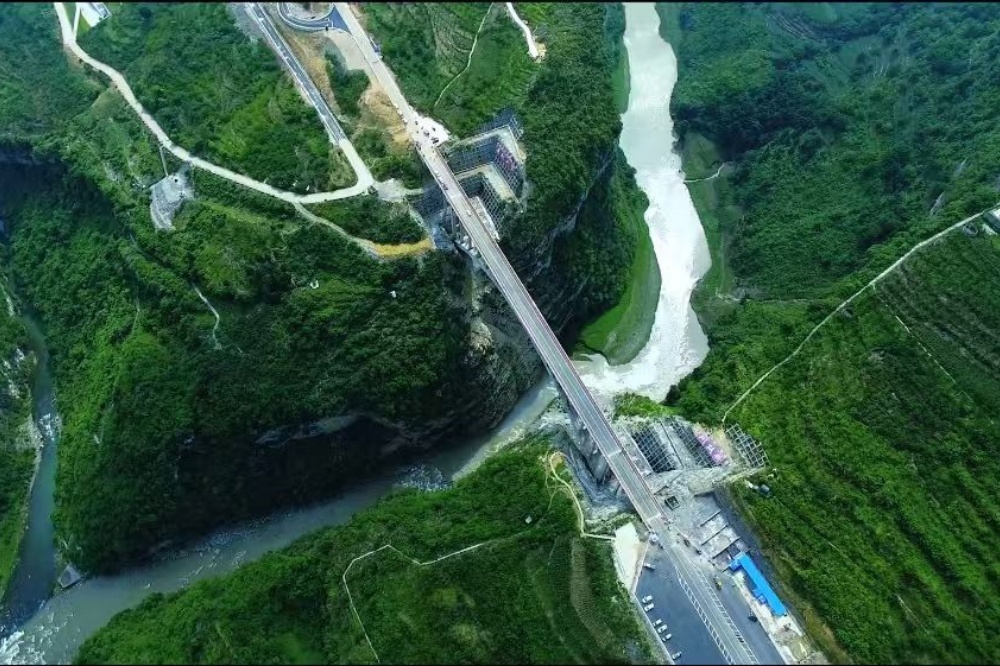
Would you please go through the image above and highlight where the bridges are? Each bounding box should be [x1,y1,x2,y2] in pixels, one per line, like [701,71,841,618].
[419,146,667,521]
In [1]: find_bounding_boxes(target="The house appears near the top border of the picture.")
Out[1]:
[83,0,115,29]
